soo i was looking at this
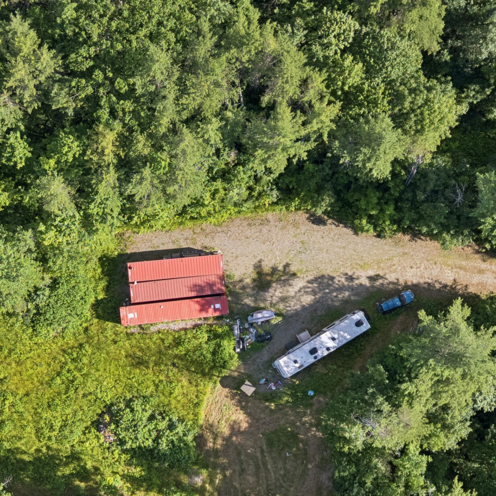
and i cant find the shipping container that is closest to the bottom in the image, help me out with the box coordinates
[120,295,228,326]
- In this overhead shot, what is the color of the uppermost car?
blue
